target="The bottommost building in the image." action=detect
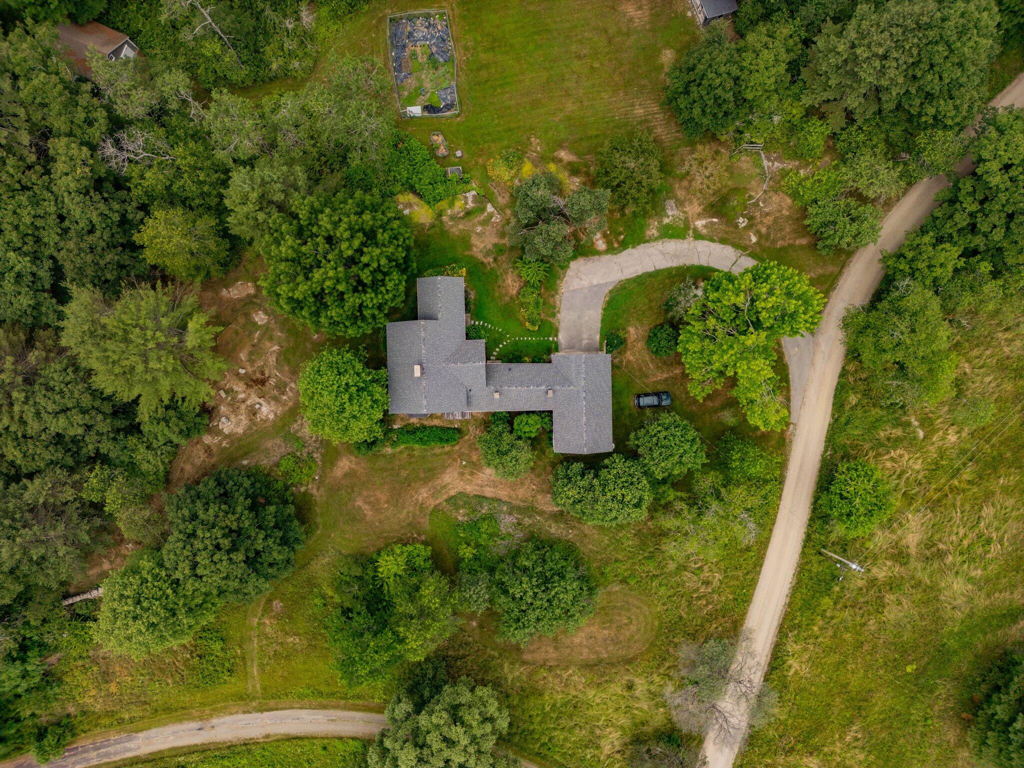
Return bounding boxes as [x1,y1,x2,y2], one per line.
[388,275,618,455]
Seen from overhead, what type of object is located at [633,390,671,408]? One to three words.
car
